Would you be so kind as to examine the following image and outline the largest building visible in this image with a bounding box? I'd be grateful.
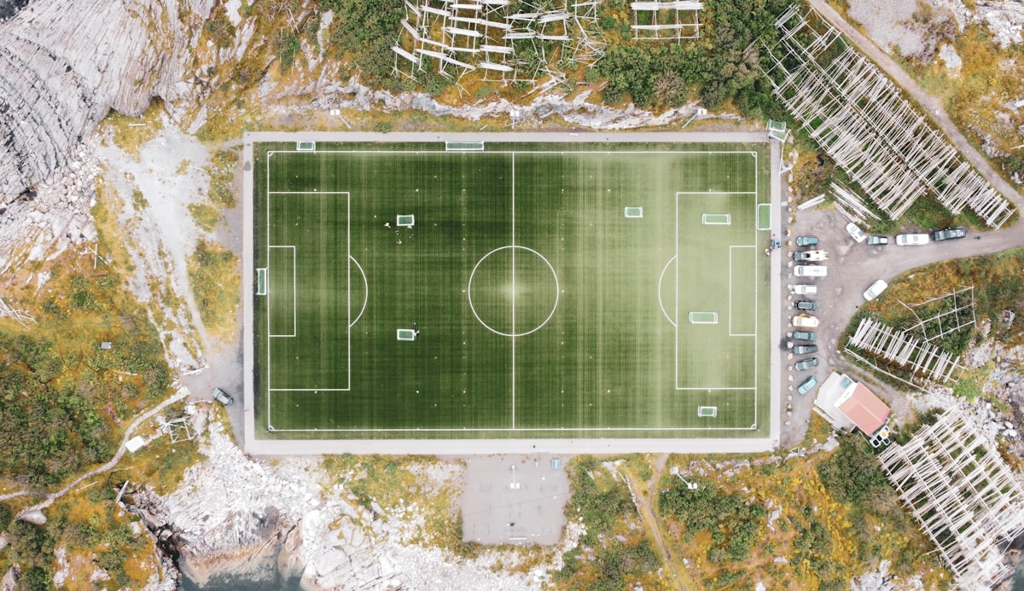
[812,372,891,435]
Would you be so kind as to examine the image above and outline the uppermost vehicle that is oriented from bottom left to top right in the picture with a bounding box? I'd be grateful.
[864,279,892,301]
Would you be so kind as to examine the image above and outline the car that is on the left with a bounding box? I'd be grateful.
[210,388,233,407]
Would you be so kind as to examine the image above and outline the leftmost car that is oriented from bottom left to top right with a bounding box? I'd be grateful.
[797,376,820,395]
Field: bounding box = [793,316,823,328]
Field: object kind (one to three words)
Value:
vehicle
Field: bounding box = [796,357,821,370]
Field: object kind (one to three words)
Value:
vehicle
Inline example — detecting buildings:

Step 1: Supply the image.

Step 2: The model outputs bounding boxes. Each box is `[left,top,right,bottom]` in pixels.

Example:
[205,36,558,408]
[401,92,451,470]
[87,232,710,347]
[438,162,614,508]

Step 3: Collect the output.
[119,436,145,456]
[812,372,891,435]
